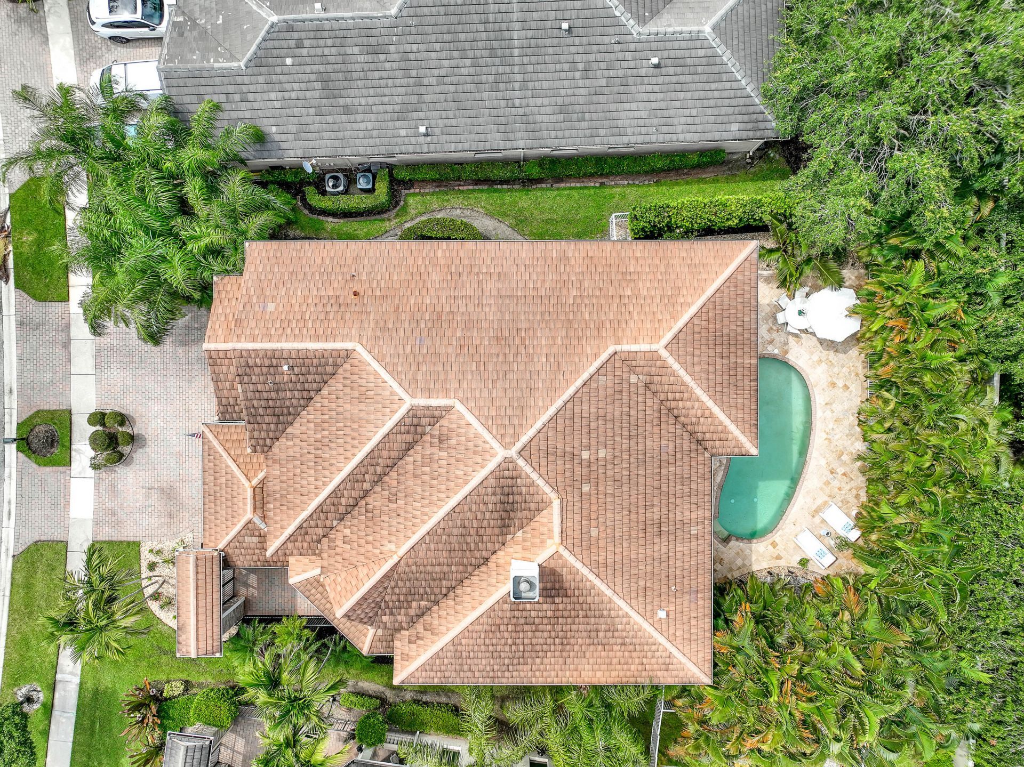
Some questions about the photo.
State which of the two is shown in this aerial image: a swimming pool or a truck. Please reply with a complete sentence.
There is a swimming pool in the scene.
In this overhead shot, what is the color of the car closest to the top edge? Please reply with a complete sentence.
The color of the car closest to the top edge is white.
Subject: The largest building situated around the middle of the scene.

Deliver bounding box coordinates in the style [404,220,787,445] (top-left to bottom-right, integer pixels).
[199,239,761,688]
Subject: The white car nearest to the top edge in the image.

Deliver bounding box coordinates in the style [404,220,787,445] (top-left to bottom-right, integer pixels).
[81,0,166,45]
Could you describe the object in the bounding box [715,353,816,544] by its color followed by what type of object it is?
green swimming pool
